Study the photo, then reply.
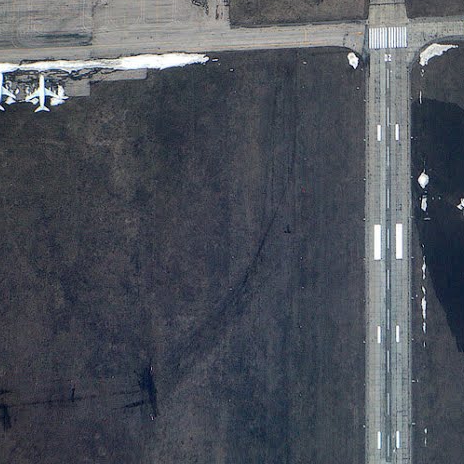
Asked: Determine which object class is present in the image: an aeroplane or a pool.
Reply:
aeroplane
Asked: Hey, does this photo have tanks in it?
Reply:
No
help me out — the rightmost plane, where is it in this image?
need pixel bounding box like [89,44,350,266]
[25,73,59,112]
